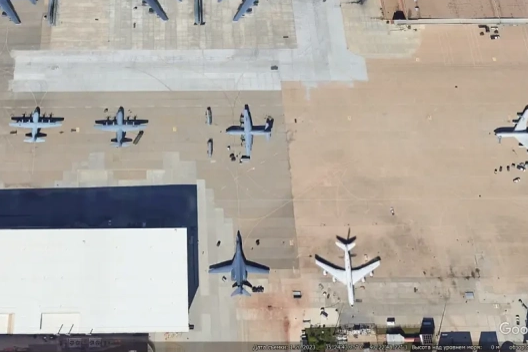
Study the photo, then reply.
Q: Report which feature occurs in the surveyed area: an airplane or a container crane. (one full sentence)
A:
The image shows an airplane.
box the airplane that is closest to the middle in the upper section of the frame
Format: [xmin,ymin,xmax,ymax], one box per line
[228,108,270,158]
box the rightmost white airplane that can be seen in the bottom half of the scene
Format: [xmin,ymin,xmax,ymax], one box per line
[316,238,381,307]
